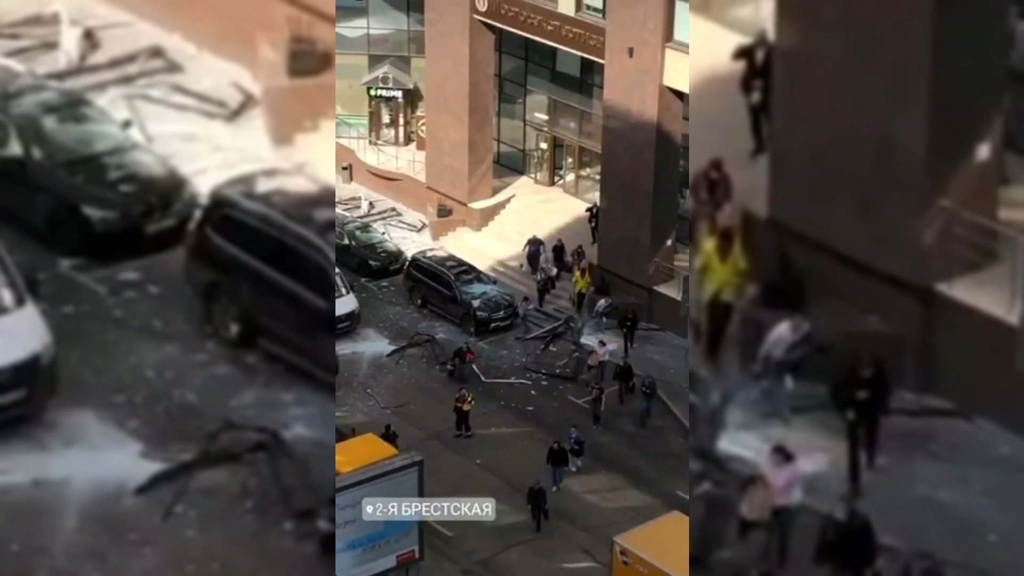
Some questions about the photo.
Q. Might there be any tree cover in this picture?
No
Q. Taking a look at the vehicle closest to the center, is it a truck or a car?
car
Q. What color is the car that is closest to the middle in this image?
black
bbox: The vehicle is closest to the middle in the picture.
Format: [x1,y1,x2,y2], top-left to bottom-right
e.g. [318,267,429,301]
[398,248,518,334]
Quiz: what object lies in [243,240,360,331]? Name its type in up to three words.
van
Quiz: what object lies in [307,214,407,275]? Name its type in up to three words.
car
